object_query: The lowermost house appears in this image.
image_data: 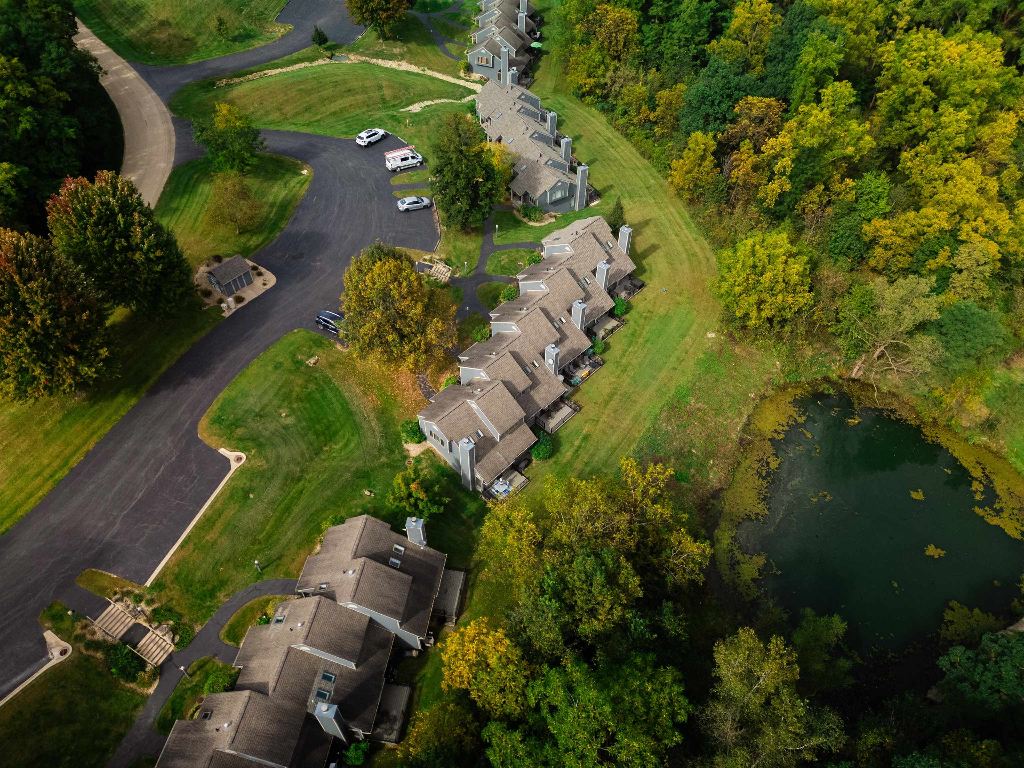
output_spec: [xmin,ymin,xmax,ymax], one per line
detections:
[156,692,334,768]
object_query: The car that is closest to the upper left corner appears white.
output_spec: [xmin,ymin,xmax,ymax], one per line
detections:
[356,128,388,147]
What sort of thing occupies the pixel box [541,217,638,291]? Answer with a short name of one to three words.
house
